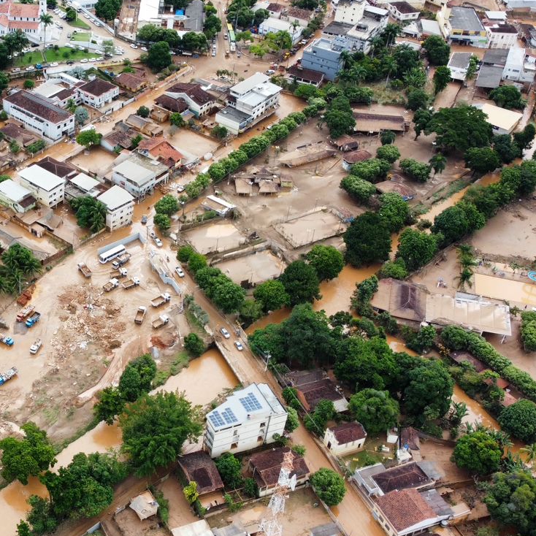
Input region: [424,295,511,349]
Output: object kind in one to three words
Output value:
shed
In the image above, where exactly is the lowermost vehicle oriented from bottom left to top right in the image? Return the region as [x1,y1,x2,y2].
[0,363,21,385]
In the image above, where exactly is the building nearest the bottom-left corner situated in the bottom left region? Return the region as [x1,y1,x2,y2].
[129,494,161,525]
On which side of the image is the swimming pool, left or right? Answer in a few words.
right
